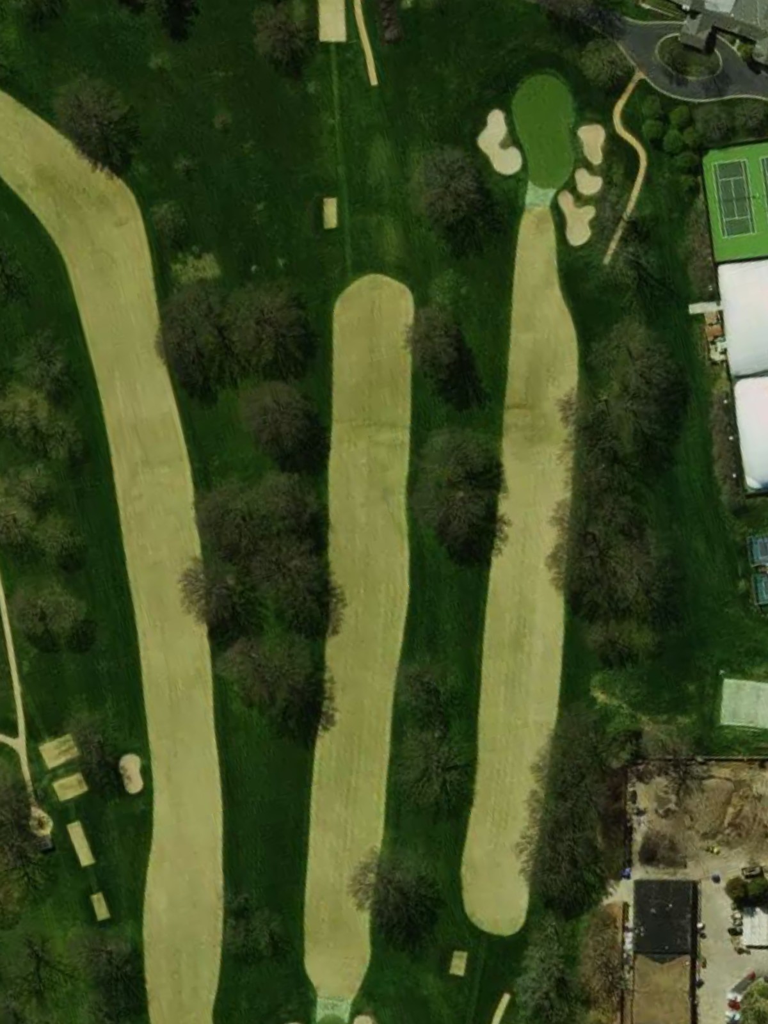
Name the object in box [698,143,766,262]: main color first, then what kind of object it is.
green tennis court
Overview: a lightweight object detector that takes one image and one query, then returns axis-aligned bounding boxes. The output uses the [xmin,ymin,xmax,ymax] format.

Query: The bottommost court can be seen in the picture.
[717,679,768,729]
